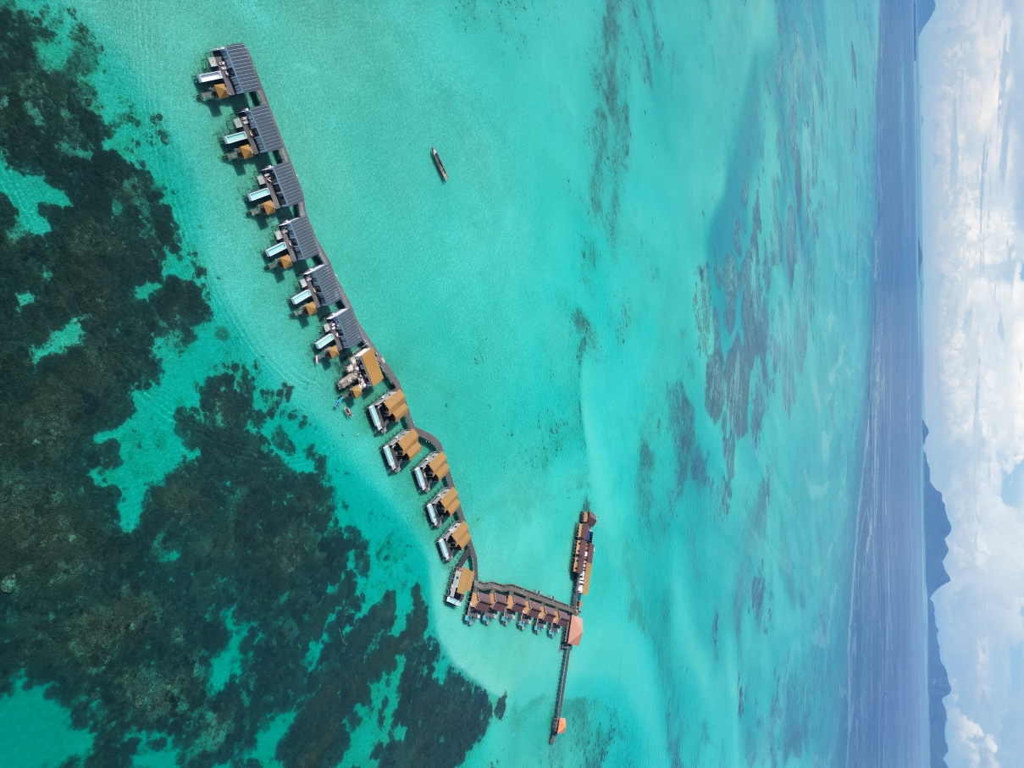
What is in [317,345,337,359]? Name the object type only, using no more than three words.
gazebo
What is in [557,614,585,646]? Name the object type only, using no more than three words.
building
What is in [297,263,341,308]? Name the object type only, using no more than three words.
house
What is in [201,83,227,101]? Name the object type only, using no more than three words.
gazebo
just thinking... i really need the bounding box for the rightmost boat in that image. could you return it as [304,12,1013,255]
[432,146,449,181]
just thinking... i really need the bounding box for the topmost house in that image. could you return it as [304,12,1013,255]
[207,44,259,96]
